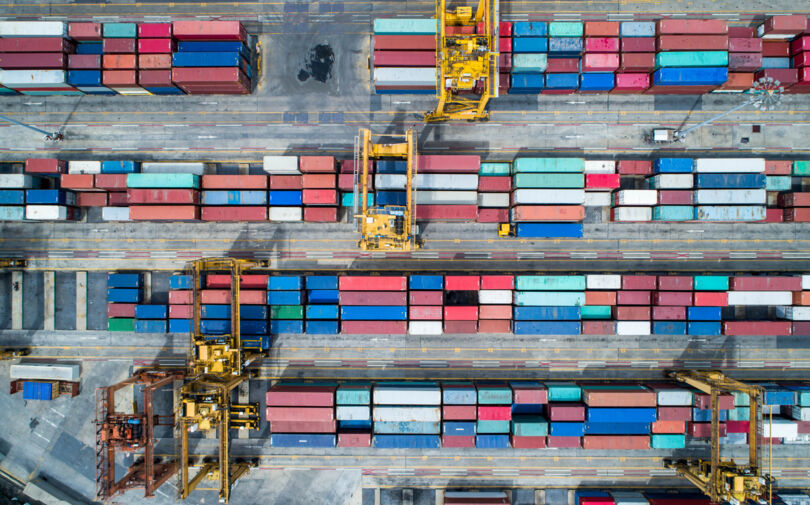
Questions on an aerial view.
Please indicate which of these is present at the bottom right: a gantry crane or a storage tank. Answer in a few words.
gantry crane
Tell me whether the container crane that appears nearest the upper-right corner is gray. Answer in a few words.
No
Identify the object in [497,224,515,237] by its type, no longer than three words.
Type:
vehicle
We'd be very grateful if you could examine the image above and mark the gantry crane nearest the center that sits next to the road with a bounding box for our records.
[353,128,423,250]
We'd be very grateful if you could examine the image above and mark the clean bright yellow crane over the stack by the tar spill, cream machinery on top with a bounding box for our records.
[423,0,499,120]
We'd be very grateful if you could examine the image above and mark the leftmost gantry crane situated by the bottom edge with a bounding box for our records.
[98,370,200,499]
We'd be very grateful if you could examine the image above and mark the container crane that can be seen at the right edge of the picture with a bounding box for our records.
[659,373,774,505]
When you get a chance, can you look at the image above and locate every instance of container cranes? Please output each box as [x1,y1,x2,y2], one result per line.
[423,0,499,120]
[659,373,774,505]
[353,128,423,250]
[98,370,200,499]
[187,259,273,377]
[175,370,263,502]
